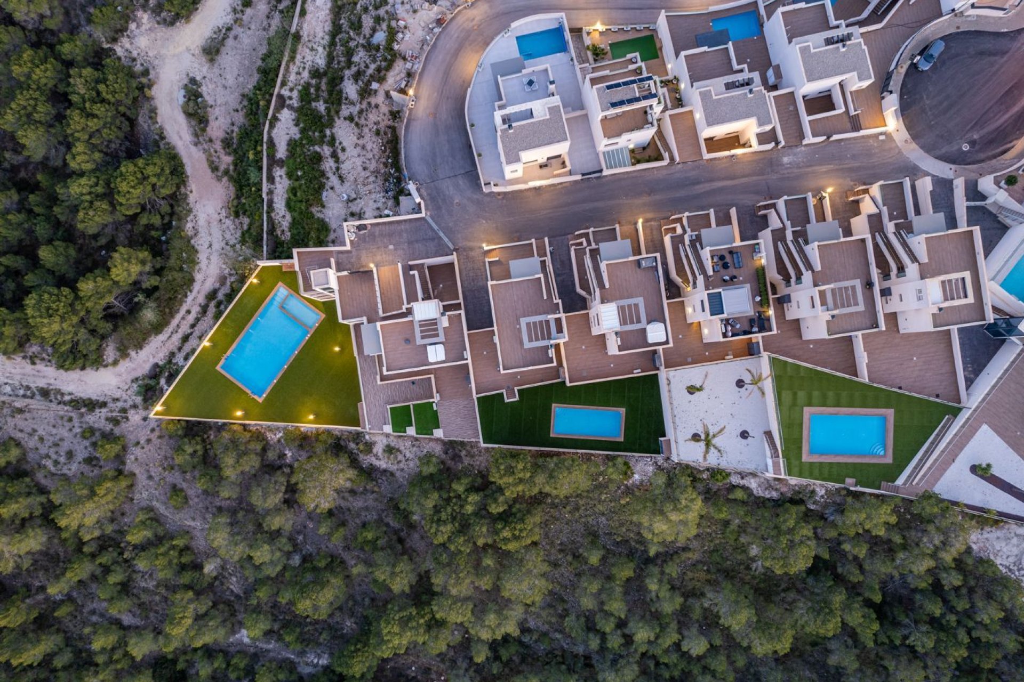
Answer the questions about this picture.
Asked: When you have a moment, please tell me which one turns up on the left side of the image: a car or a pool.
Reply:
pool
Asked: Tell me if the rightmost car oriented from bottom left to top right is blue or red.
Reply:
blue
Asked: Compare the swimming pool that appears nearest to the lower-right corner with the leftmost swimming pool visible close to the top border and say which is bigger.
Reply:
the swimming pool that appears nearest to the lower-right corner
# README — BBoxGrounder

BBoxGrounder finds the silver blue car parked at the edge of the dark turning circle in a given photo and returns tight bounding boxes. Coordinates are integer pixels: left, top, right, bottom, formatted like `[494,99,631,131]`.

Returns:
[914,37,947,73]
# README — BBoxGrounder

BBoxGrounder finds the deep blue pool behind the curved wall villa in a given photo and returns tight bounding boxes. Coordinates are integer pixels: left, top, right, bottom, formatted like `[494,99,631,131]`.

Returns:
[512,23,570,64]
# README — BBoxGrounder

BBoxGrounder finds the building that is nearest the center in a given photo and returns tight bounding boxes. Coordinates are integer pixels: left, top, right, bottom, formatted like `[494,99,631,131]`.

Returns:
[488,257,569,373]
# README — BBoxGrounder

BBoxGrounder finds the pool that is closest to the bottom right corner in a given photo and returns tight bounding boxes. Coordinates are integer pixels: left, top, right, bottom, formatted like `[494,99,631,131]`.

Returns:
[802,407,894,464]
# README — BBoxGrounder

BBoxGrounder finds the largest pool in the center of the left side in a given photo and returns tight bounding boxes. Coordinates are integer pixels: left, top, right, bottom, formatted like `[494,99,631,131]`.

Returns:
[216,282,325,403]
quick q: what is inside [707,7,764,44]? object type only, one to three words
swimming pool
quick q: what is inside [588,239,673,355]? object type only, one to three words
house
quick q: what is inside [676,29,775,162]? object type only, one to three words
house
